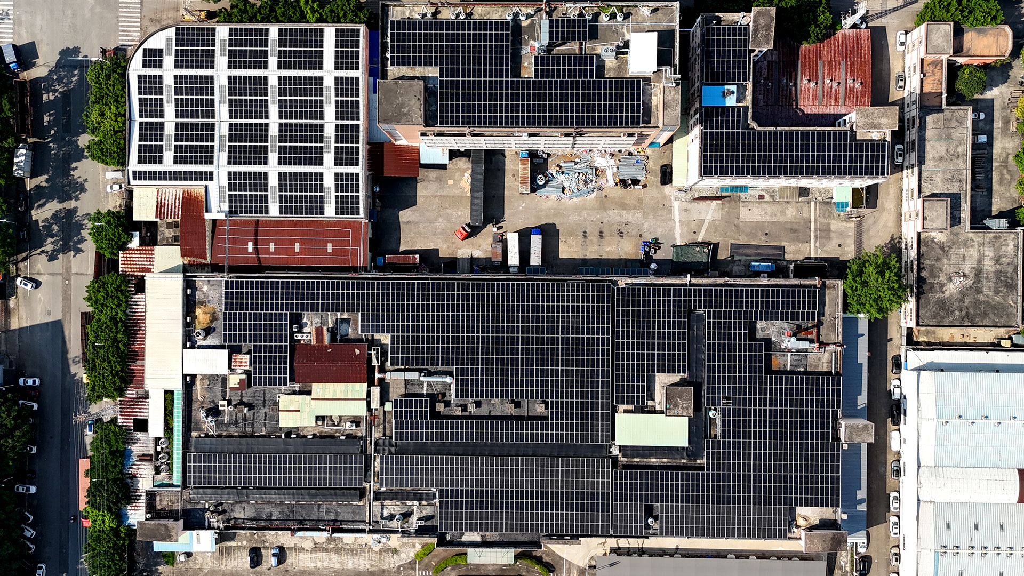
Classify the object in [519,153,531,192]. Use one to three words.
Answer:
vehicle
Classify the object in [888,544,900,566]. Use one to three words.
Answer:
vehicle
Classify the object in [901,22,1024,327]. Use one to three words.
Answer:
building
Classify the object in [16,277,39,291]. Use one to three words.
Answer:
car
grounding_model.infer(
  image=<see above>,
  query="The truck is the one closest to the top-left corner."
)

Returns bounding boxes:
[1,41,24,73]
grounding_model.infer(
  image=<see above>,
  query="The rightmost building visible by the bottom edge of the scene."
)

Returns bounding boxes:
[900,351,1024,576]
